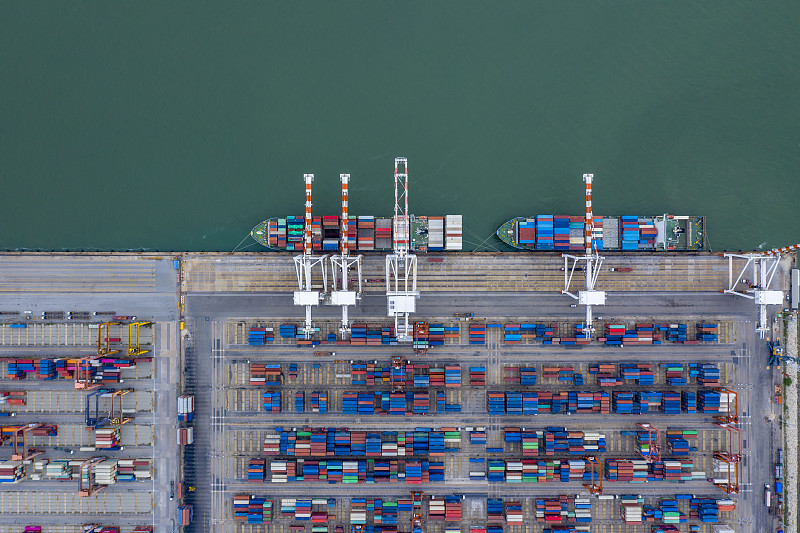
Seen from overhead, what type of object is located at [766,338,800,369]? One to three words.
crane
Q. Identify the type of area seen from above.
port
